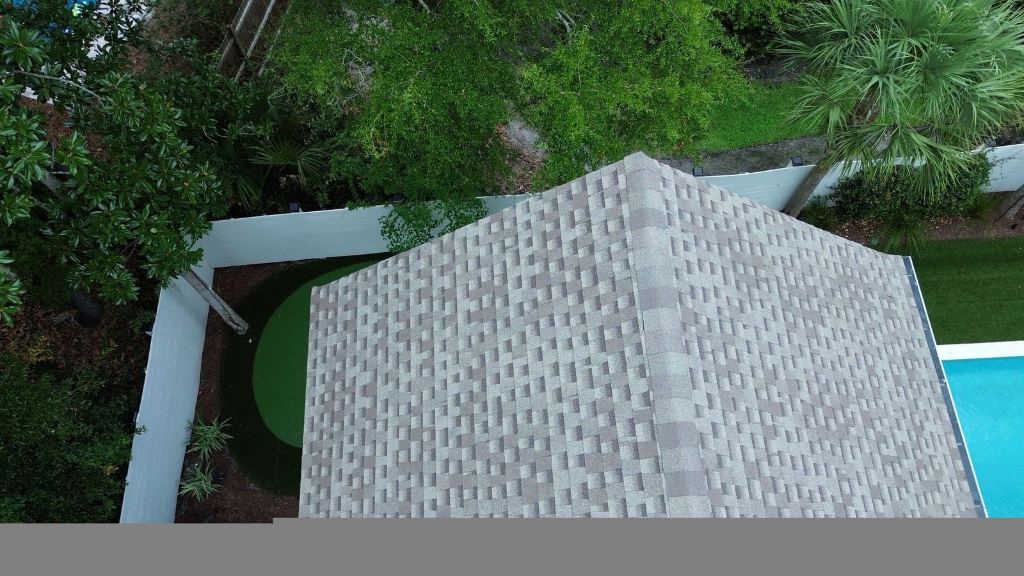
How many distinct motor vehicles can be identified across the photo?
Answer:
0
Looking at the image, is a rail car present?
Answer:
No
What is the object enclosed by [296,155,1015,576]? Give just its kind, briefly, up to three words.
house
